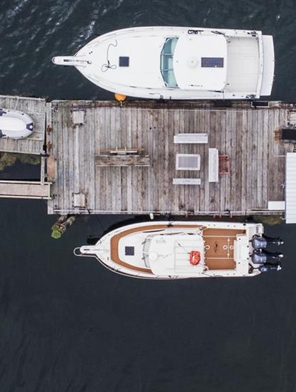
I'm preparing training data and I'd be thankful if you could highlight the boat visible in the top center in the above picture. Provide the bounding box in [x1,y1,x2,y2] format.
[52,26,275,101]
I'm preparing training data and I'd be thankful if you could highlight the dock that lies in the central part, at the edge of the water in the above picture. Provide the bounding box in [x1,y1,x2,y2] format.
[42,101,296,217]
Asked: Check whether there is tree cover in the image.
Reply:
No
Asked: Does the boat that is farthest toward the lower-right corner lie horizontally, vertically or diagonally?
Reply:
horizontally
